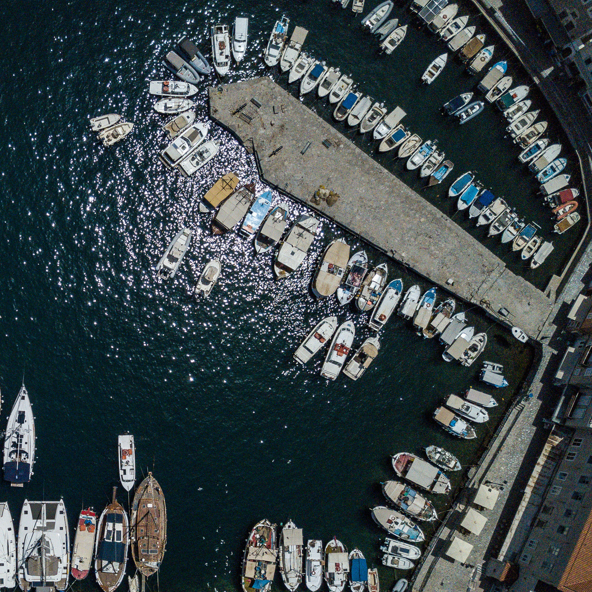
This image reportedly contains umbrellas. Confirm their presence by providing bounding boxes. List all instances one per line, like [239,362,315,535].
[446,536,473,565]
[461,509,487,535]
[473,485,498,509]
